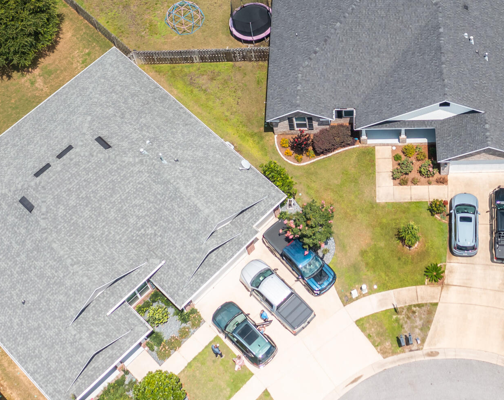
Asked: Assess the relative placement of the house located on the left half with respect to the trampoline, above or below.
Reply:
below it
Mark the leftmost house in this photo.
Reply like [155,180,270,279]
[0,45,286,400]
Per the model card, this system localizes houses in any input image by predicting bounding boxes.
[266,0,504,174]
[0,45,286,400]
